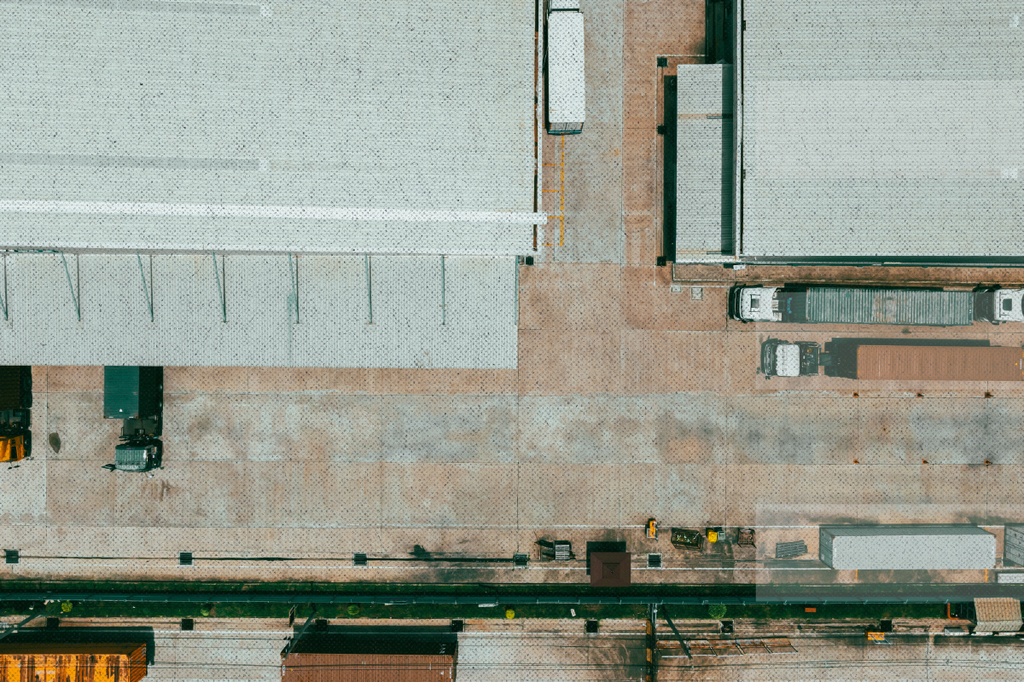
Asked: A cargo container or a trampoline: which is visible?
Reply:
cargo container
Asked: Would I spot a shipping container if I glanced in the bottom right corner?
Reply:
Yes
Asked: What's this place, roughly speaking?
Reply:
industrial area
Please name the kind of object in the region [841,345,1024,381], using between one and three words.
shipping container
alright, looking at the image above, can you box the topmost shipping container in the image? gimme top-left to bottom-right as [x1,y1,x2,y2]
[791,288,974,326]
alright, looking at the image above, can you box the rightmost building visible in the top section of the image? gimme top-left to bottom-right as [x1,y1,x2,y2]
[707,0,1024,270]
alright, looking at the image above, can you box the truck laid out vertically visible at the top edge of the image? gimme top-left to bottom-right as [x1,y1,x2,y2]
[547,0,585,139]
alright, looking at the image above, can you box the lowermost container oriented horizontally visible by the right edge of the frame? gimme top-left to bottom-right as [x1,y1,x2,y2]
[819,528,995,569]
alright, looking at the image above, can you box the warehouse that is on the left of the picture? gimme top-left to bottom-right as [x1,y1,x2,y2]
[0,0,547,370]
